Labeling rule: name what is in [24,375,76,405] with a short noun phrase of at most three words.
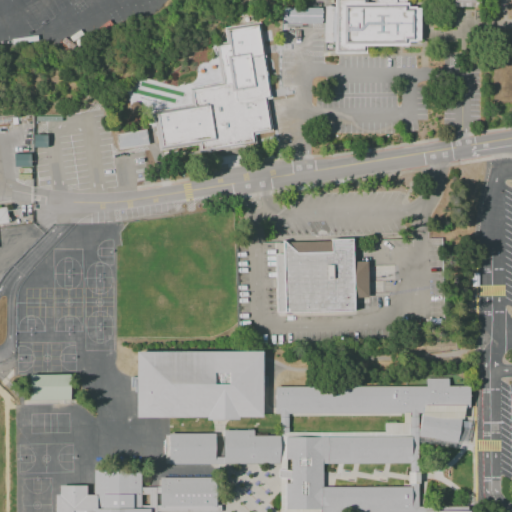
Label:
building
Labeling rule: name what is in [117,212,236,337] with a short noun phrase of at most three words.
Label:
sports field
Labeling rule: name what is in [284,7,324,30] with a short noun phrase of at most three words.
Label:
building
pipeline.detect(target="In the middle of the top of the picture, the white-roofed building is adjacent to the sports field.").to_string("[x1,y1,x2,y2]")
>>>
[157,22,274,151]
